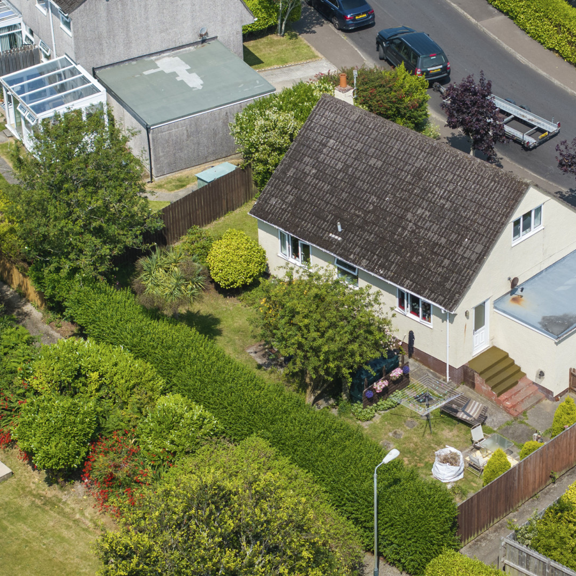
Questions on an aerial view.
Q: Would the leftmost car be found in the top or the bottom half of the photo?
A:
top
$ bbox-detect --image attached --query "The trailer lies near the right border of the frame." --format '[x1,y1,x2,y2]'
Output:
[436,83,559,148]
